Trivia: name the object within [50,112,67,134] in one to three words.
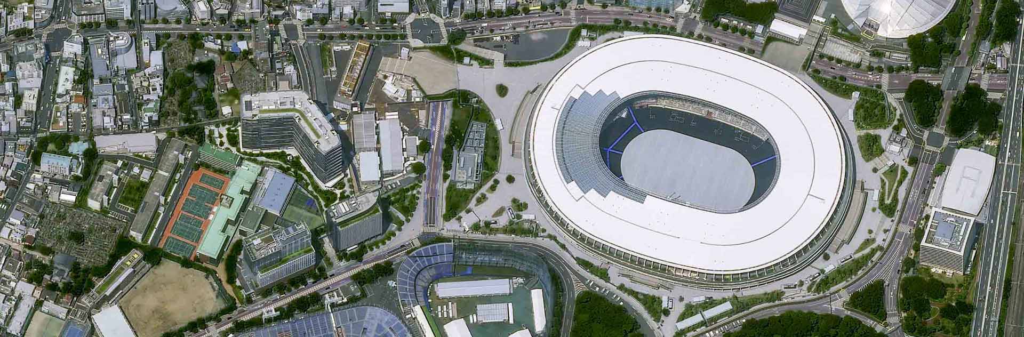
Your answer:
building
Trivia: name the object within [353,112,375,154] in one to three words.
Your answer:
building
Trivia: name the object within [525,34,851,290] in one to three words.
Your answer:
stadium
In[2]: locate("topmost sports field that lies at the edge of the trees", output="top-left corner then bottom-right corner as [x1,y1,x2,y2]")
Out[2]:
[281,182,325,225]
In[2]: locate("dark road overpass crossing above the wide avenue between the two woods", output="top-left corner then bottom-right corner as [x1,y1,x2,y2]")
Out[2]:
[941,50,975,112]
